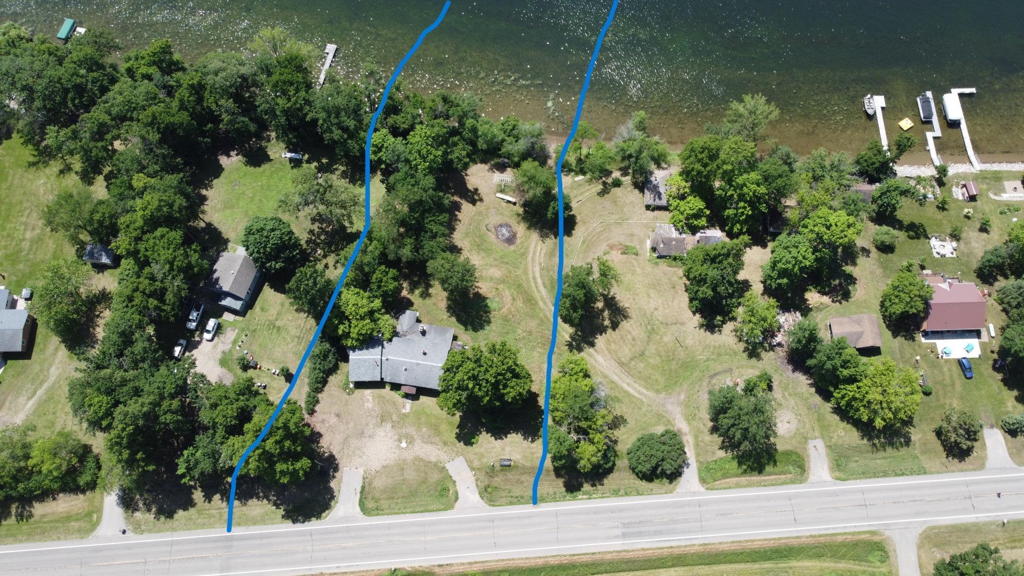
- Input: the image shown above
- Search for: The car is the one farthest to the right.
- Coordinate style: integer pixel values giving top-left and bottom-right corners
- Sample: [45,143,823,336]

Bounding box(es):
[958,358,974,380]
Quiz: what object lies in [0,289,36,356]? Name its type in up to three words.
house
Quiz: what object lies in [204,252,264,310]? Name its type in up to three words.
house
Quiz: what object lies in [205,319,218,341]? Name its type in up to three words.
vehicle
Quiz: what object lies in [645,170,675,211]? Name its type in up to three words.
building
